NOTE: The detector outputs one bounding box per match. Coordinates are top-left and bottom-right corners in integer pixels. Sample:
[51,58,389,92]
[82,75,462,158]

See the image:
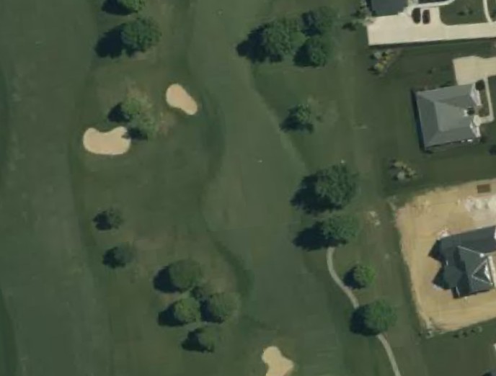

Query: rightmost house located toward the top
[417,83,482,149]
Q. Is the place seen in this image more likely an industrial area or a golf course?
golf course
